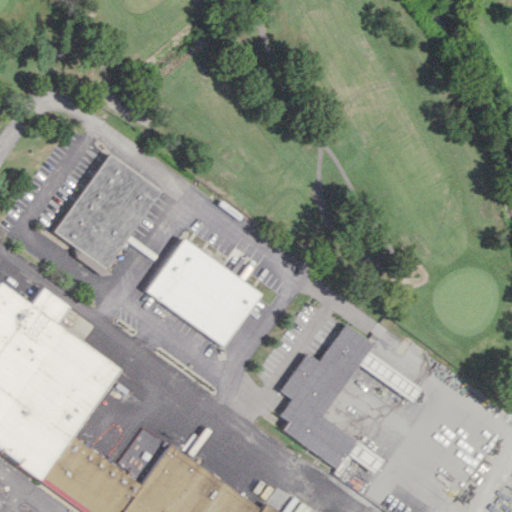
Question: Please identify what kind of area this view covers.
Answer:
golf course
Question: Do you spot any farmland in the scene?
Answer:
No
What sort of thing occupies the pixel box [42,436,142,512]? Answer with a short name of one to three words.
building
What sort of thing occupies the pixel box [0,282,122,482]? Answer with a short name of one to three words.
building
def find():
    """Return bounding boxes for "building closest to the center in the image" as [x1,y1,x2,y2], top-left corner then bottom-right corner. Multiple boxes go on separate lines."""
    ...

[146,241,262,347]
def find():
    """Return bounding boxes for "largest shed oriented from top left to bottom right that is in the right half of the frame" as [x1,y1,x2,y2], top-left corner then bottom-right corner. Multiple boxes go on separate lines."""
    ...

[362,352,425,403]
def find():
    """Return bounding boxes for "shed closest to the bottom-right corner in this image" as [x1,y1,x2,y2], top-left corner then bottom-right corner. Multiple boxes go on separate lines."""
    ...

[350,443,384,474]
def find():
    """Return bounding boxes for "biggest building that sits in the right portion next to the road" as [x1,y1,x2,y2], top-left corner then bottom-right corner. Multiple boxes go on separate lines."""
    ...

[281,324,373,470]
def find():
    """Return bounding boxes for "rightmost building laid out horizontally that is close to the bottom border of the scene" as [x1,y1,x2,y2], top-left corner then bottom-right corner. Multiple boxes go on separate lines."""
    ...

[124,446,270,512]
